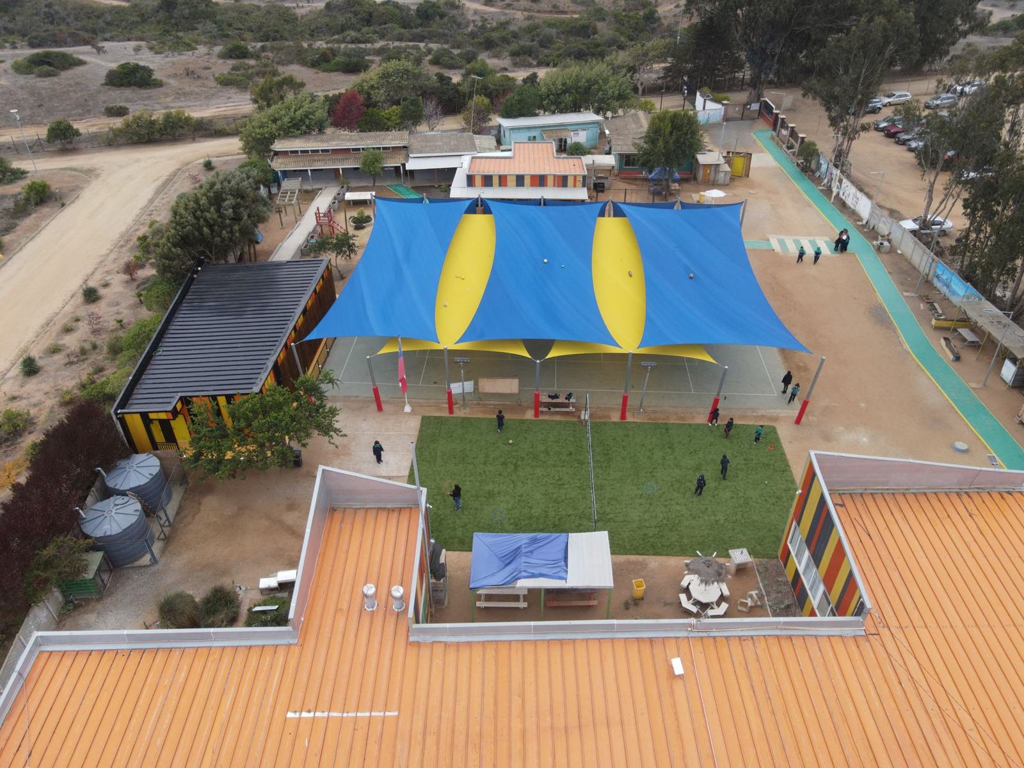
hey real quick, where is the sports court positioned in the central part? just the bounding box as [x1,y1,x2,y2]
[314,335,801,410]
